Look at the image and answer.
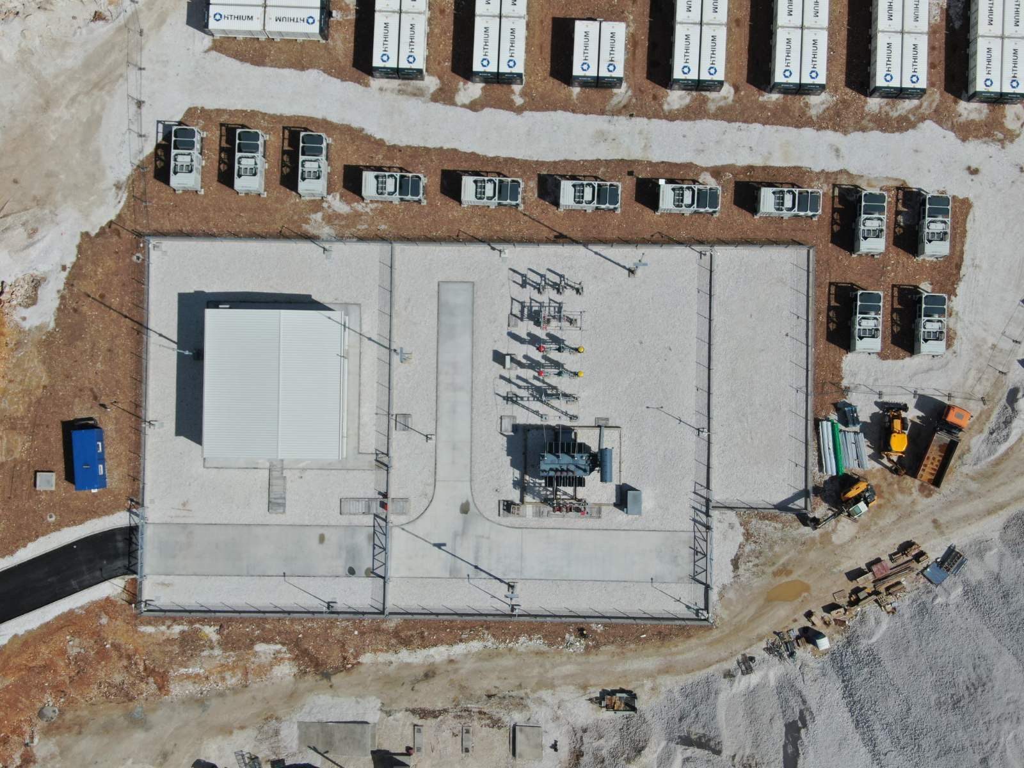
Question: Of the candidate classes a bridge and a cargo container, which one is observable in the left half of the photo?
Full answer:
It is a cargo container that can be seen in the left half of the photo.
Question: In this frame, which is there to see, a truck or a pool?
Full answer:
Looking from above, you can make out a truck.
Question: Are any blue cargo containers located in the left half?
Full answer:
Yes, there is a blue cargo container in the left half.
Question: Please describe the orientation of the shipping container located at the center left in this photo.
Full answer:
In this picture, the shipping container located at the center left is oriented from top to bottom.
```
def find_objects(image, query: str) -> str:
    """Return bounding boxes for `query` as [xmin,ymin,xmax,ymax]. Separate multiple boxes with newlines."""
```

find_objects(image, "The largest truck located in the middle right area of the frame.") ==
[910,402,976,493]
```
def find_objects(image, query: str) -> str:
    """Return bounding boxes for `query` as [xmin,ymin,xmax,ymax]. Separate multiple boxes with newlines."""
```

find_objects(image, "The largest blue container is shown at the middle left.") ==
[72,421,108,491]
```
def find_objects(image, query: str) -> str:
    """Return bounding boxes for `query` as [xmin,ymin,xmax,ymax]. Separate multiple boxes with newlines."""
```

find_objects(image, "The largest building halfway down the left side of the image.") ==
[204,306,354,460]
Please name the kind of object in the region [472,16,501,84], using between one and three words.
shipping container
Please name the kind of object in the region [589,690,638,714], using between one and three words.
trailer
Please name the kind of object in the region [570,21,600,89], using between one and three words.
shipping container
